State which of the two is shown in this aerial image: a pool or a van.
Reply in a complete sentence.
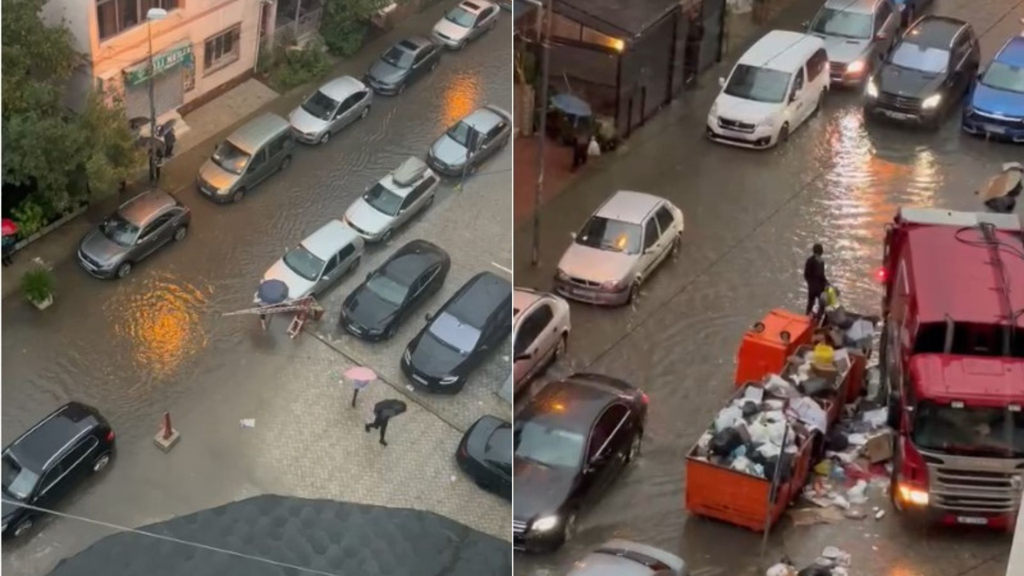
It is a van that can be seen here.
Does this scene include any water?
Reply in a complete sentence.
Yes, the picture does contain water.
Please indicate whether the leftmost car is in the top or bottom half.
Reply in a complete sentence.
The leftmost car is in the bottom half of the image.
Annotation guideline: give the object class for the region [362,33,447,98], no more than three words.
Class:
car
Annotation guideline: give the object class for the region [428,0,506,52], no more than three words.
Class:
car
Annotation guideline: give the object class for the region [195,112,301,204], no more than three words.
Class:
van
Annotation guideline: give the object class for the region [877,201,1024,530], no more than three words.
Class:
truck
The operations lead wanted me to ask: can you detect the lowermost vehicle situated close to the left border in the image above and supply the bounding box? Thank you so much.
[0,408,118,537]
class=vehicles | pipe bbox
[410,285,511,396]
[514,363,660,559]
[289,74,376,148]
[341,163,445,242]
[555,186,688,312]
[877,201,1024,530]
[865,10,992,132]
[513,281,569,393]
[362,33,447,98]
[75,190,194,280]
[428,0,506,52]
[450,425,514,508]
[340,246,455,340]
[824,0,935,93]
[428,105,511,177]
[965,38,1024,152]
[195,112,301,204]
[0,408,118,537]
[708,25,835,152]
[260,222,367,308]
